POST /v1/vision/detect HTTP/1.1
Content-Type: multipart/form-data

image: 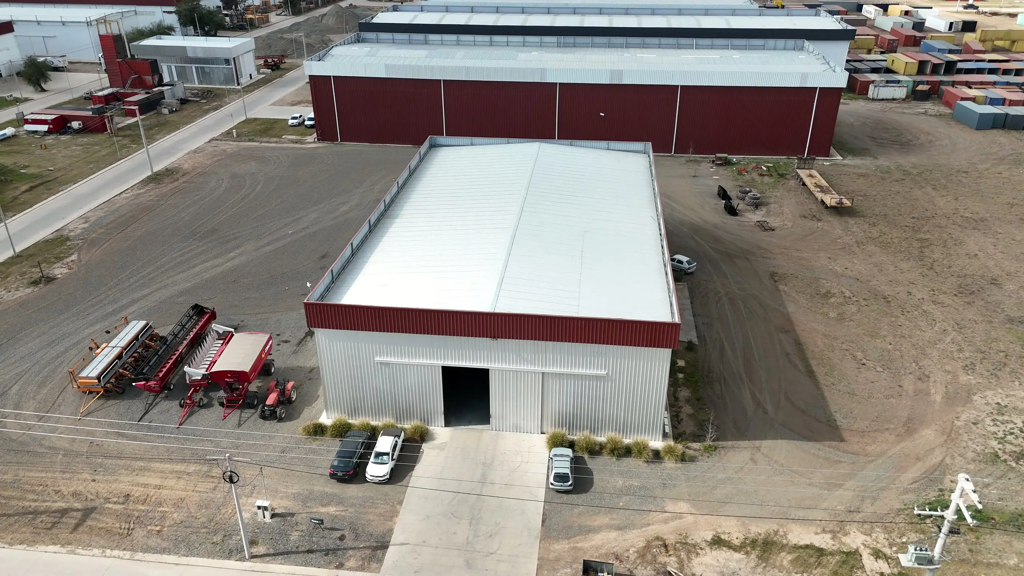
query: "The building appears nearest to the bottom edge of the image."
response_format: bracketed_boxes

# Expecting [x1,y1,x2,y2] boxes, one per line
[303,136,682,446]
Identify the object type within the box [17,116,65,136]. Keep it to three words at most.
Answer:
trailer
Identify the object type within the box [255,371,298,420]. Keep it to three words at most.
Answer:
work vehicle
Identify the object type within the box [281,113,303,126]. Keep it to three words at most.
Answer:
vehicle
